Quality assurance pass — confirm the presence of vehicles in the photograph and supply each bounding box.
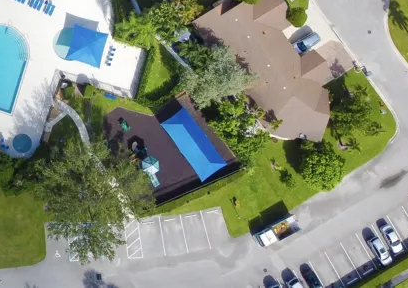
[253,218,305,252]
[368,232,395,266]
[300,260,325,288]
[379,221,406,254]
[281,267,305,288]
[293,31,323,55]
